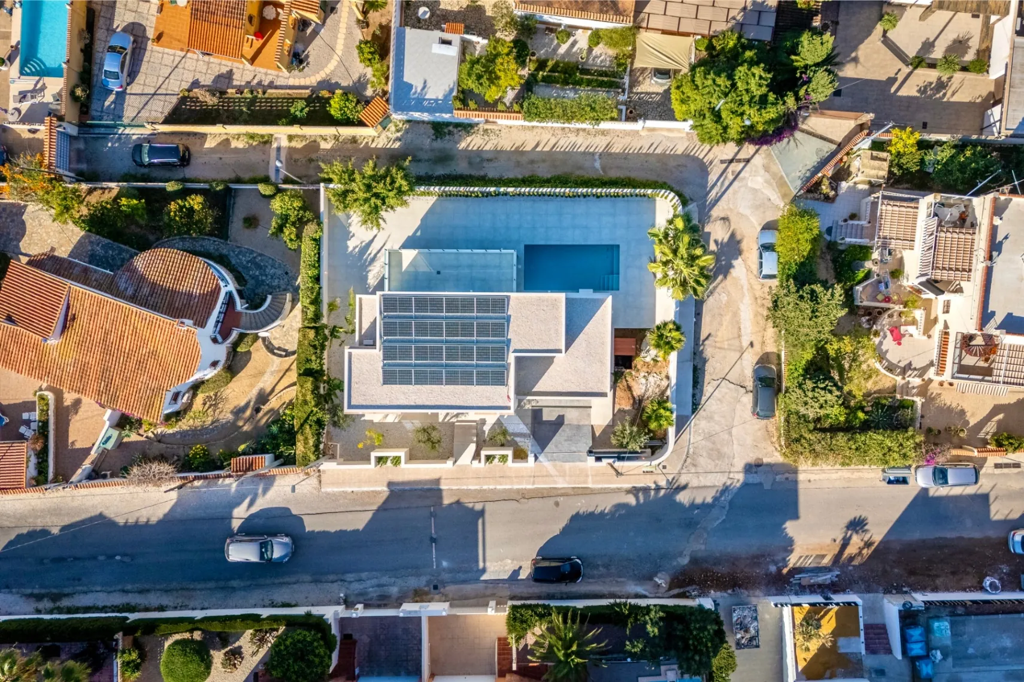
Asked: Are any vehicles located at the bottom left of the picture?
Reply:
Yes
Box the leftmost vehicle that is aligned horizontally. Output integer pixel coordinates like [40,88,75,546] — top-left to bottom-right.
[131,139,193,169]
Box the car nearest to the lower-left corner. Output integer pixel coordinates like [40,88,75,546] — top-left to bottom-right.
[226,533,294,564]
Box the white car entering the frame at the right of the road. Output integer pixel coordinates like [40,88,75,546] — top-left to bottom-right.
[1004,527,1024,554]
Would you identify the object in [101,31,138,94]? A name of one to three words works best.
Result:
car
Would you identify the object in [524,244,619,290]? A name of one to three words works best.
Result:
swimming pool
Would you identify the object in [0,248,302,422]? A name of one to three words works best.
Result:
house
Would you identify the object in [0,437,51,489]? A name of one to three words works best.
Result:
shed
